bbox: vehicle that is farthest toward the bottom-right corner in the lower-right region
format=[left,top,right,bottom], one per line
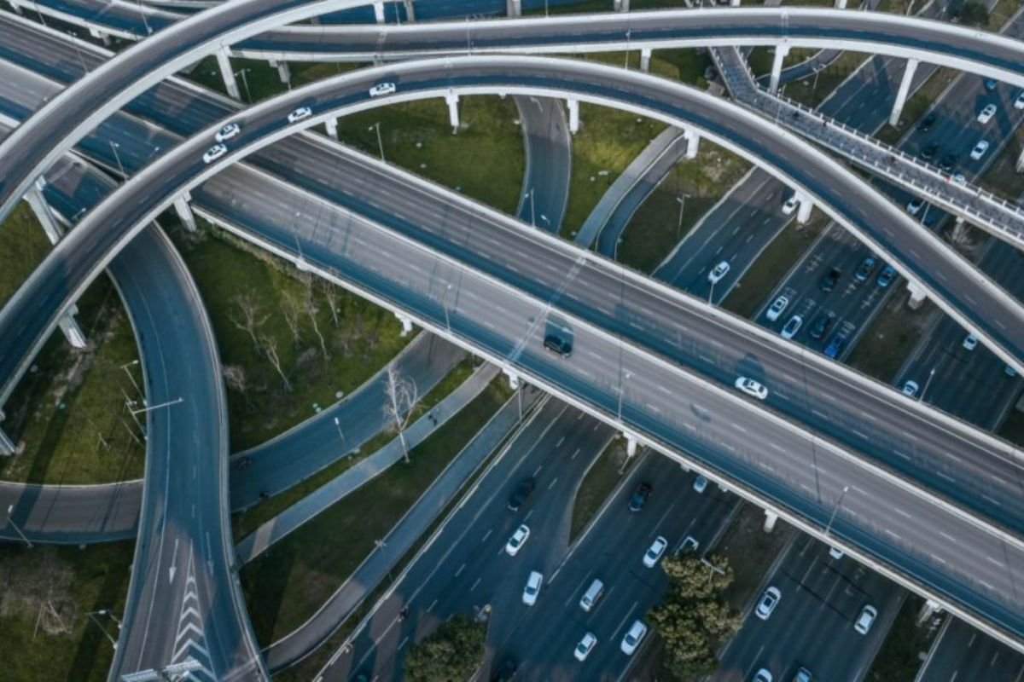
[852,604,878,636]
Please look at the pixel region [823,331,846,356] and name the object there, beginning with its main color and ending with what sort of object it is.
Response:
blue car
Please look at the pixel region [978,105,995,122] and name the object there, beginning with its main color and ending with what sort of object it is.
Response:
white car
